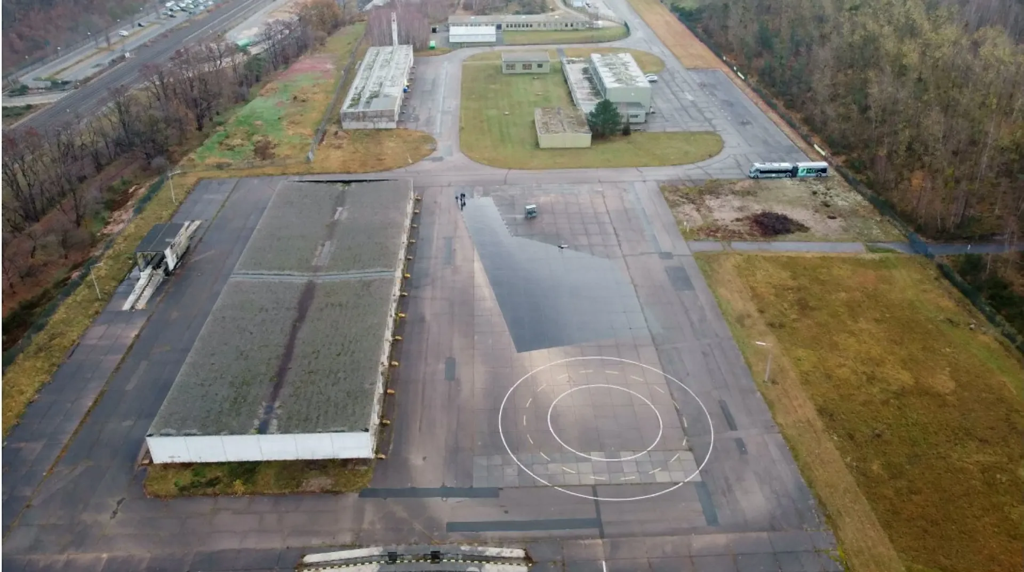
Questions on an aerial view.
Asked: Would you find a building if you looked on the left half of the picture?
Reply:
Yes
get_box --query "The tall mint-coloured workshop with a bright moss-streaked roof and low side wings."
[562,53,653,121]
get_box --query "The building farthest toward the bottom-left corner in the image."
[135,177,416,463]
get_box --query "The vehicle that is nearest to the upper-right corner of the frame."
[746,160,830,177]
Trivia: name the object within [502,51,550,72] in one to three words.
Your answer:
shed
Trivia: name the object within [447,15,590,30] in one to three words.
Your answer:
building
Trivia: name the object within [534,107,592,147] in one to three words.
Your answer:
shed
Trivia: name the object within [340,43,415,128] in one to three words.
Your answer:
building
